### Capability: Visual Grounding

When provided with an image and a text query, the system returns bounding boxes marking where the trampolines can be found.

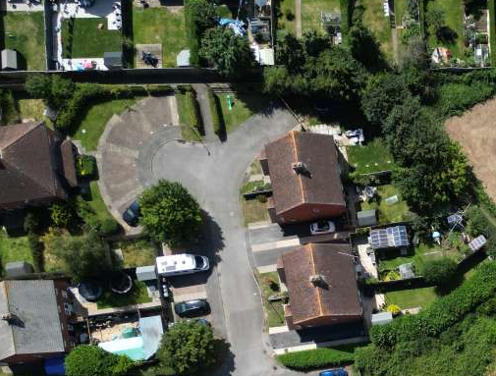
[112,274,133,294]
[78,281,104,304]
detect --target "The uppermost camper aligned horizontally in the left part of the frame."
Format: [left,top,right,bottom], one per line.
[157,255,211,277]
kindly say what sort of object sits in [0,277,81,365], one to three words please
house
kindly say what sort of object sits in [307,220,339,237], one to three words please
car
